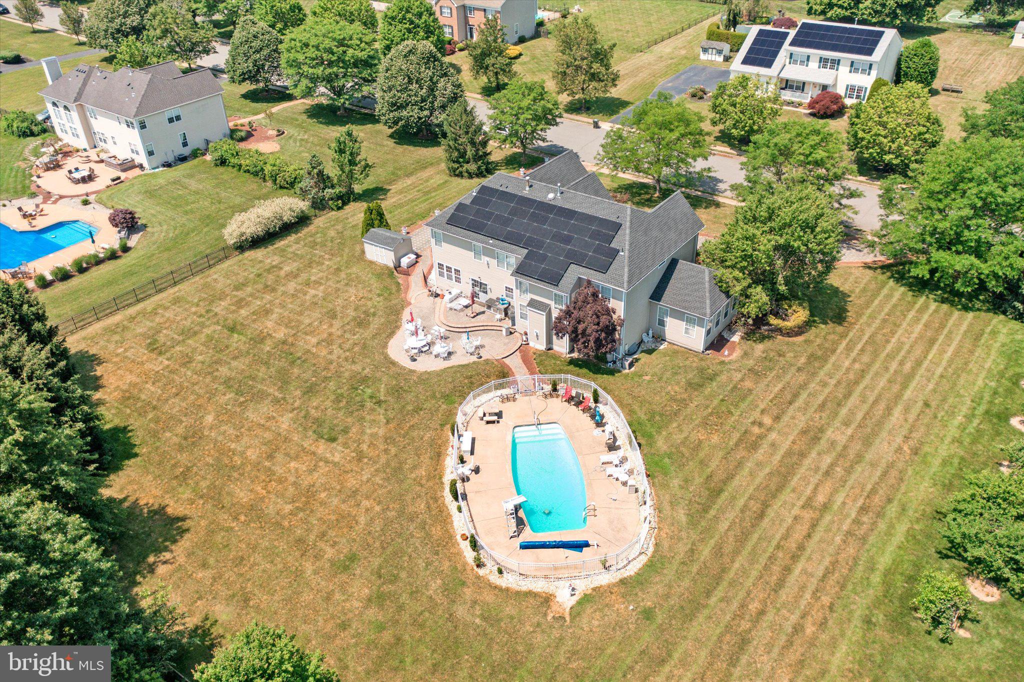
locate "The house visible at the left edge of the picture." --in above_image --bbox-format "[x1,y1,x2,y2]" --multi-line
[36,57,234,170]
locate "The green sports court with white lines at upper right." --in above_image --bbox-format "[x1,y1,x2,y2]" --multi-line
[937,9,1022,26]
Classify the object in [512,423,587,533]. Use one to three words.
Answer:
swimming pool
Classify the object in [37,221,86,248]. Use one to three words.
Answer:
swimming pool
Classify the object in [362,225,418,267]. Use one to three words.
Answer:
shed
